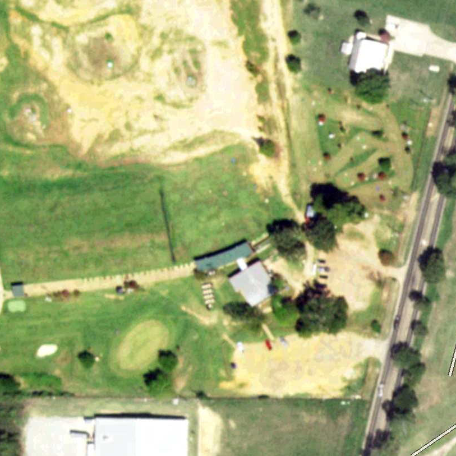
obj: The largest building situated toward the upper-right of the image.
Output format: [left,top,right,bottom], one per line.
[351,38,388,72]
